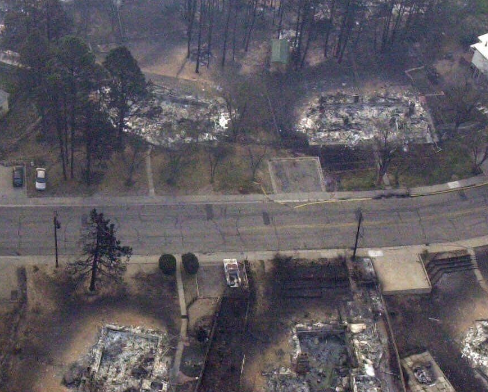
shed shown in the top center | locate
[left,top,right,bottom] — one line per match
[271,37,291,71]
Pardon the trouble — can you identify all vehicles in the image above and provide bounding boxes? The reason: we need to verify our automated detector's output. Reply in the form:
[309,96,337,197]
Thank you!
[35,168,46,188]
[13,161,24,186]
[226,259,240,284]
